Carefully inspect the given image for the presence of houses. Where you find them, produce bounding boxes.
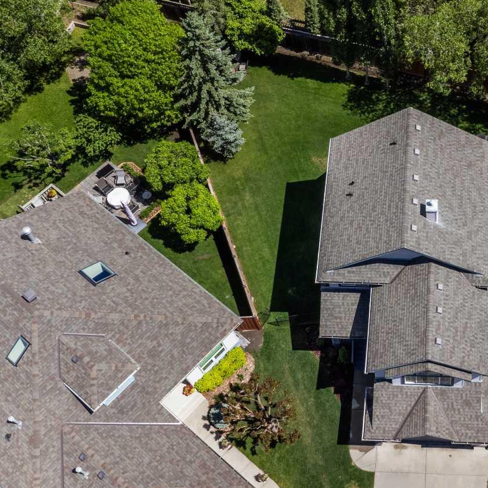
[313,108,488,448]
[0,191,255,488]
